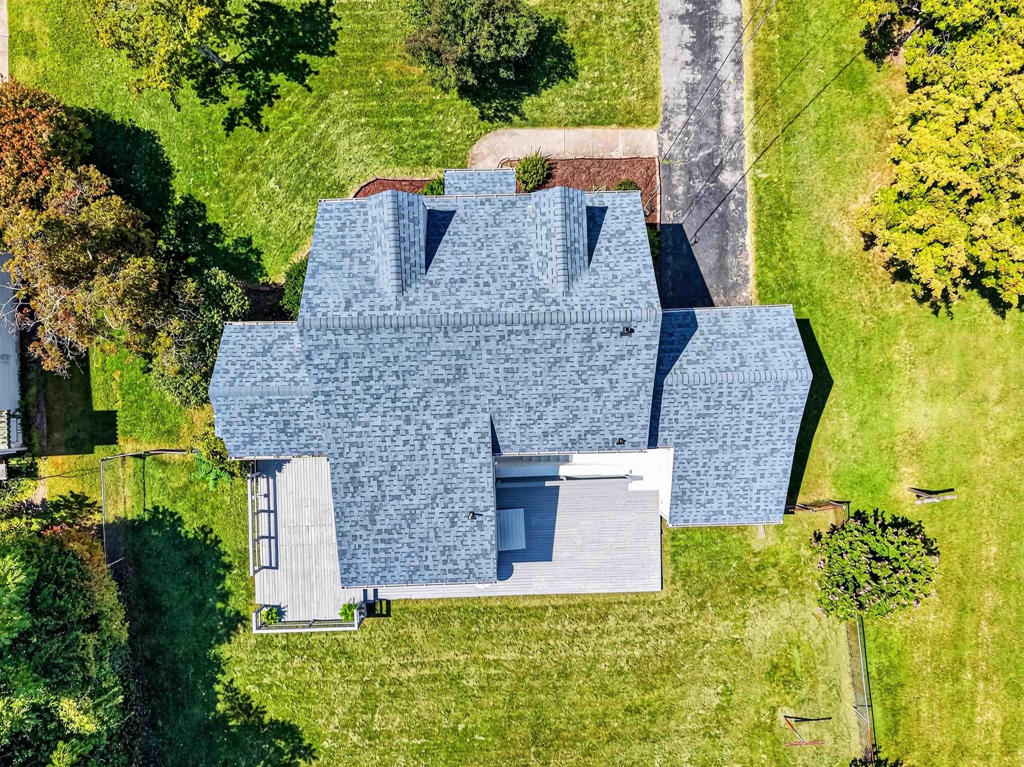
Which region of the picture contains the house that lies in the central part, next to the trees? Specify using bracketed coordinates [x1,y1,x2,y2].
[209,167,813,586]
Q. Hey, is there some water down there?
No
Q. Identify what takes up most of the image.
grass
